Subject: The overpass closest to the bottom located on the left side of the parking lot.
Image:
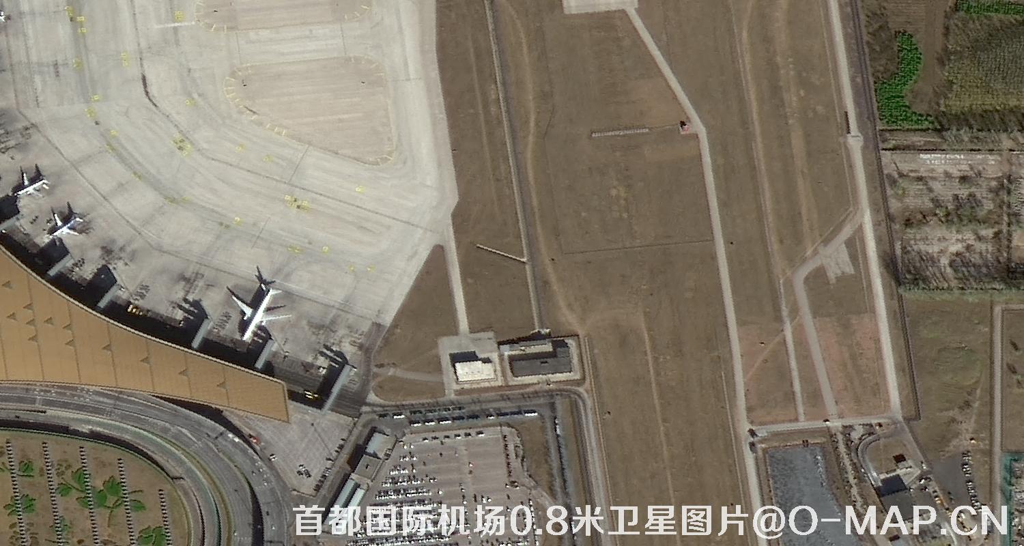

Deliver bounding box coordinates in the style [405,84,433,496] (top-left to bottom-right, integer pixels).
[0,383,287,546]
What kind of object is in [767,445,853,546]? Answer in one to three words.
pond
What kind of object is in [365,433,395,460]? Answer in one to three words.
building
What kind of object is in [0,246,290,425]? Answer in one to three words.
building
